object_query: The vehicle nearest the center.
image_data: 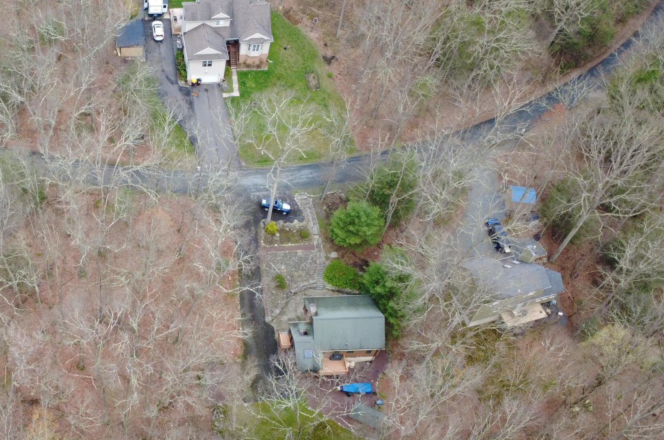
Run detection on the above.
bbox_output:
[260,196,293,215]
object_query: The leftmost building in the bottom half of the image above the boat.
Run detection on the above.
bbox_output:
[278,295,385,379]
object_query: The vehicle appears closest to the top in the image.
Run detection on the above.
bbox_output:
[143,0,168,15]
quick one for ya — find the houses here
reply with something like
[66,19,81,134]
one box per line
[169,0,275,82]
[453,252,565,332]
[278,295,385,379]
